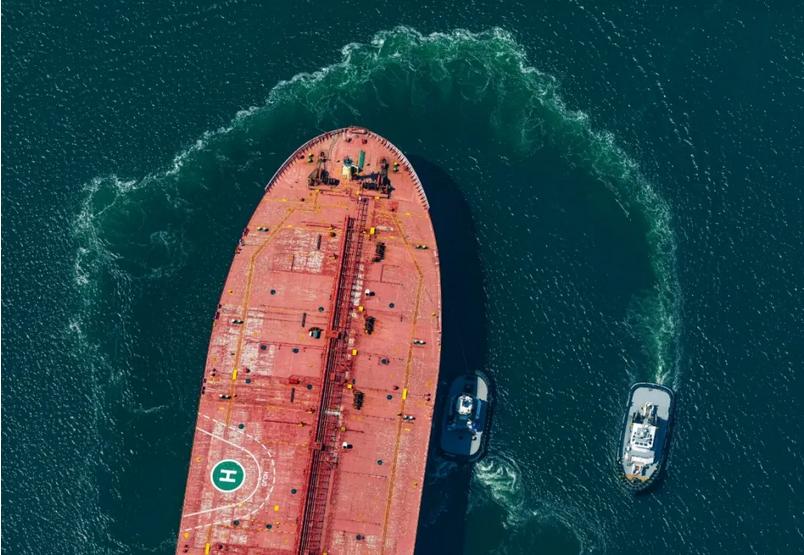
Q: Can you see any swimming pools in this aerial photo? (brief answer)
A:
No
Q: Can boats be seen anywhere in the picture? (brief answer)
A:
Yes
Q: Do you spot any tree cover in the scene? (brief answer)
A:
No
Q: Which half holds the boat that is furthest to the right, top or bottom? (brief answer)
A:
bottom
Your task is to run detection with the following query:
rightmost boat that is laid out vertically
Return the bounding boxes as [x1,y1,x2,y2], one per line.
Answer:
[619,383,675,491]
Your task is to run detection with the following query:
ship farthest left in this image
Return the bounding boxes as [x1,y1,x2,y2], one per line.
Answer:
[177,126,442,555]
